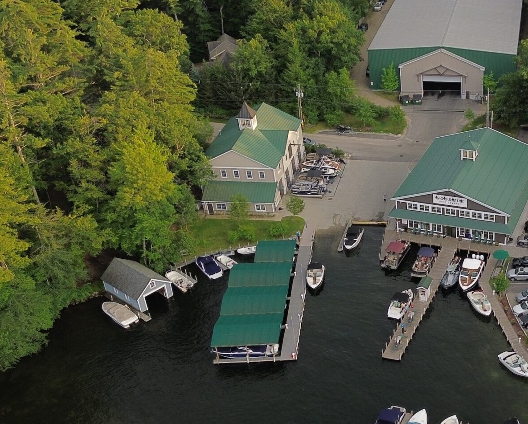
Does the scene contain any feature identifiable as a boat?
Yes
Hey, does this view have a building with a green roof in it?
Yes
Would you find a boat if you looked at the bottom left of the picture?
Yes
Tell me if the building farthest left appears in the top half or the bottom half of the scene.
bottom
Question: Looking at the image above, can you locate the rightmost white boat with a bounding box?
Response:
[493,351,528,378]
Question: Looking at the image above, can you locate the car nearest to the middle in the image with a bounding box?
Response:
[302,136,323,148]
